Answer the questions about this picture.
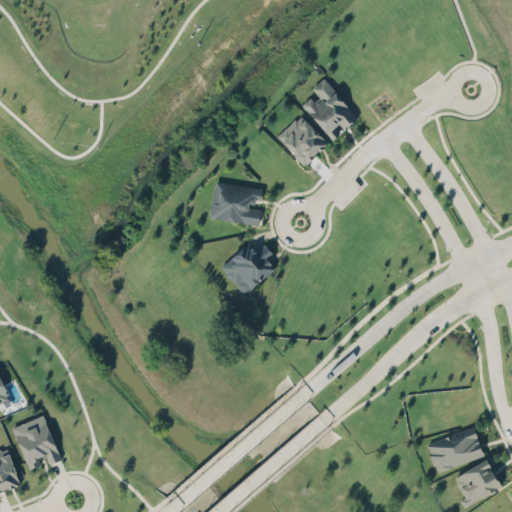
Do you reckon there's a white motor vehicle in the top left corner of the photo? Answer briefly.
No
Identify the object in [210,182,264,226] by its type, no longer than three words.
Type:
house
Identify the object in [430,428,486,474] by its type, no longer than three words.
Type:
house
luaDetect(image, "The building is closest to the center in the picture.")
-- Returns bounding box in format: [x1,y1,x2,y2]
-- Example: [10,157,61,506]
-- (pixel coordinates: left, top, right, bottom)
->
[223,237,278,296]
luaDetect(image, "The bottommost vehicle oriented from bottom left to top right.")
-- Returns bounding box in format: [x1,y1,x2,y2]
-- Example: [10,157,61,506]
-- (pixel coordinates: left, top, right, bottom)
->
[328,354,356,378]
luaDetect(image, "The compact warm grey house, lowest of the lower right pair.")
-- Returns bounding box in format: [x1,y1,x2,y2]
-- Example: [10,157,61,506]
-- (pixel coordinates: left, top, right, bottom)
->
[456,461,504,512]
